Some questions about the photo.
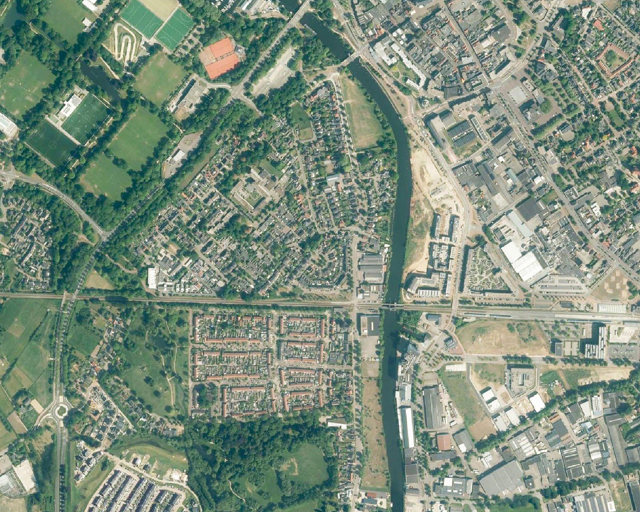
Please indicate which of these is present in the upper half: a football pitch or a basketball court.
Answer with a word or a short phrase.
football pitch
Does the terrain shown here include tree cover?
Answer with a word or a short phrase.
Yes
